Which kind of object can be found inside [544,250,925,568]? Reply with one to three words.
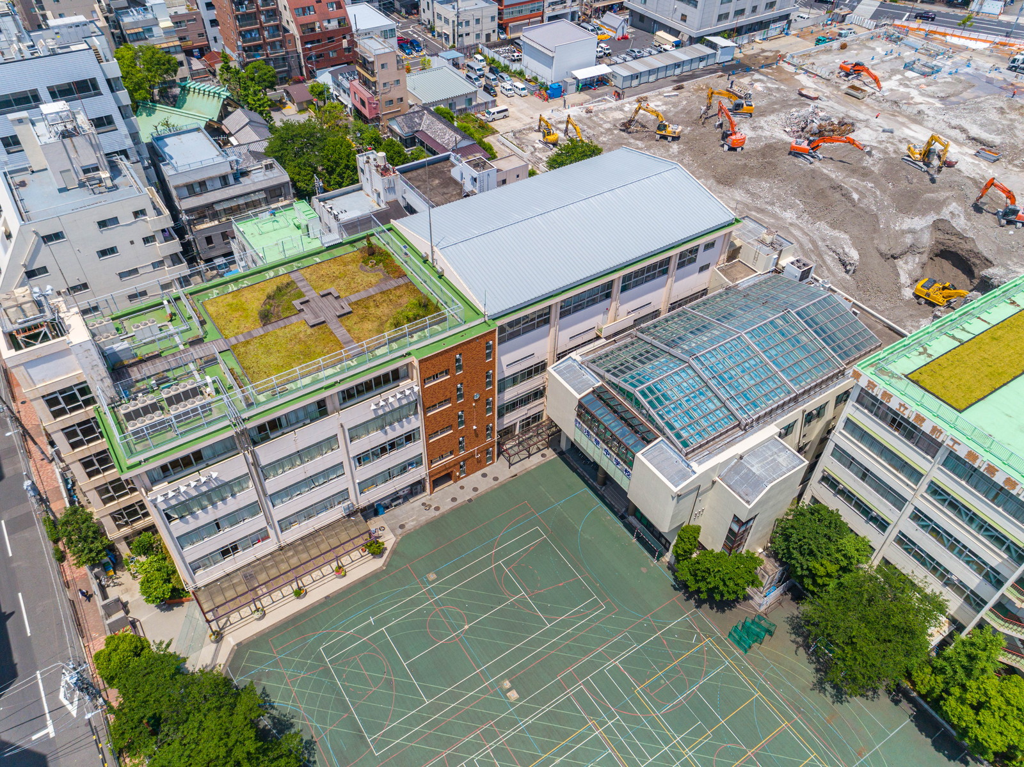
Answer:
building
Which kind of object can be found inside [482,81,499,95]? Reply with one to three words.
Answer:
vehicle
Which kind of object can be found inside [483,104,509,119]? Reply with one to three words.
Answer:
vehicle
